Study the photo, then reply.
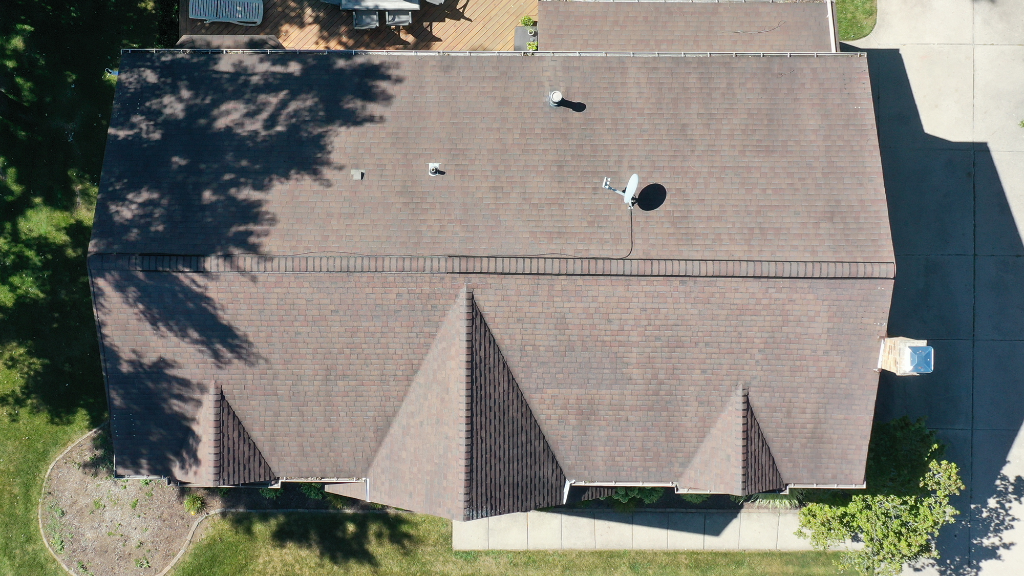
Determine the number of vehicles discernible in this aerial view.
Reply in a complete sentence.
The picture shows no vehicles.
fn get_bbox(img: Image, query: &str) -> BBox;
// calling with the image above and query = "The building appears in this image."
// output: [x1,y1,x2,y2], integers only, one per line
[88,0,933,522]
